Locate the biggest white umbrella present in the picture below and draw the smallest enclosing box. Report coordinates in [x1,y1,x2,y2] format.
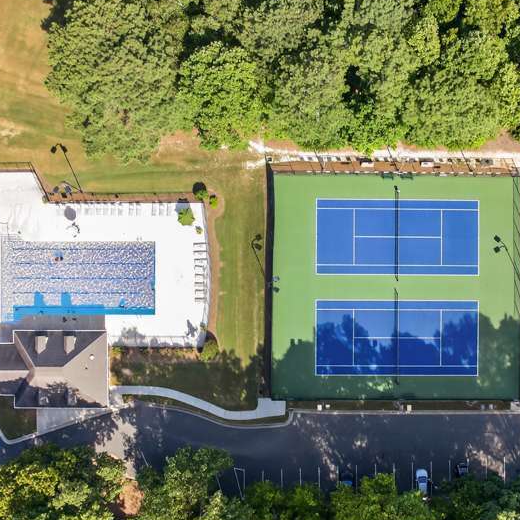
[64,221,78,235]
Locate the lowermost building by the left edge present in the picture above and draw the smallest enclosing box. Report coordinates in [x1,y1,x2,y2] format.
[0,330,110,408]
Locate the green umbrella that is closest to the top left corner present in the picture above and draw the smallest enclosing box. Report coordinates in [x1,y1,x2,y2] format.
[175,209,192,226]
